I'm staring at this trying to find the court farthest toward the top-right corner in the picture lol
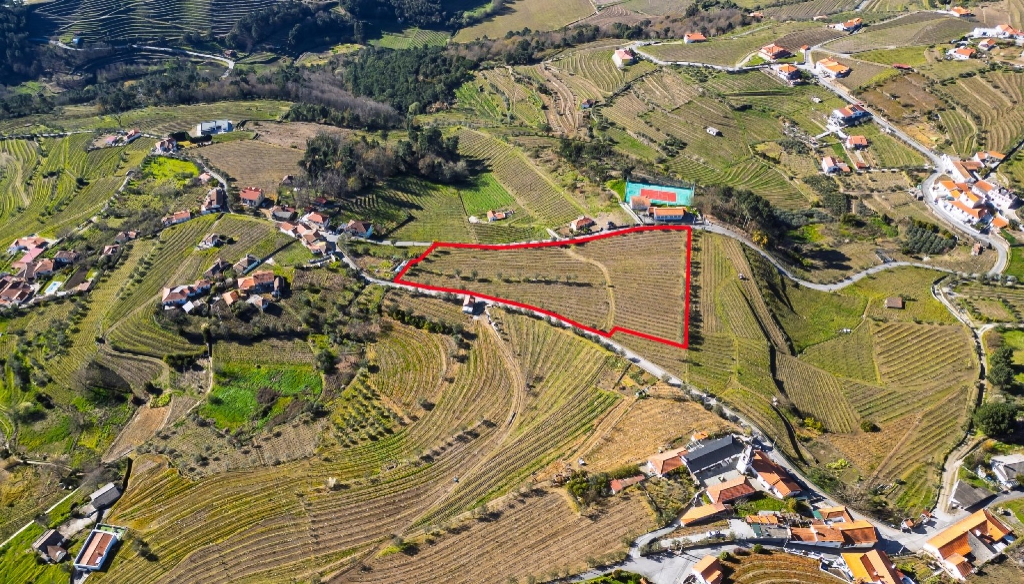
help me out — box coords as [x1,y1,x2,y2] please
[626,183,692,205]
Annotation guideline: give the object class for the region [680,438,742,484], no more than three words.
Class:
house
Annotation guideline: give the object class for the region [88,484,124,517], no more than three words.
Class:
building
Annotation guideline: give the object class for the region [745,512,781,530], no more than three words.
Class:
house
